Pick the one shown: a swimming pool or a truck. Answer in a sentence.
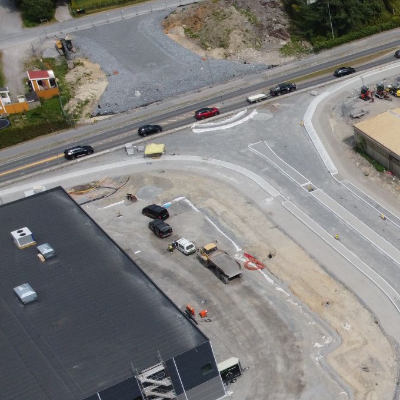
Visible in the photo is a truck.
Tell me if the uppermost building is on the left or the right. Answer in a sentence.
You can find the uppermost building on the left side of the picture.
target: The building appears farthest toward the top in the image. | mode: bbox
[24,74,59,97]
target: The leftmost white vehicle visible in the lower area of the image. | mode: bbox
[171,236,197,255]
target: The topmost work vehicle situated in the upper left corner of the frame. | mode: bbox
[57,38,70,53]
